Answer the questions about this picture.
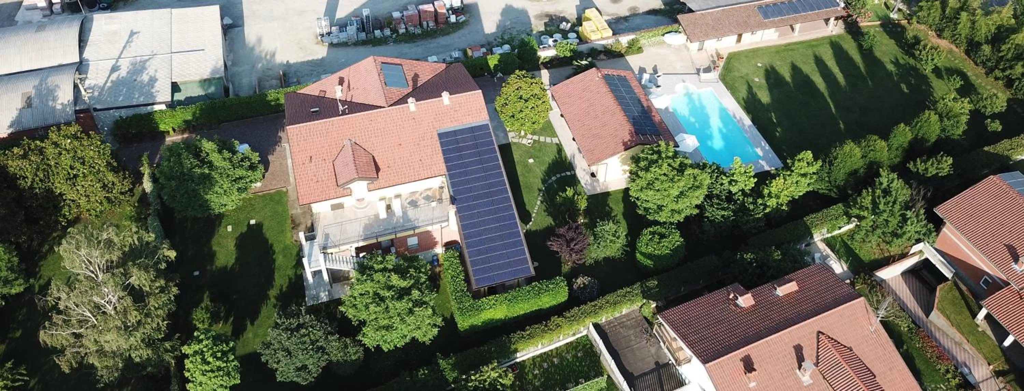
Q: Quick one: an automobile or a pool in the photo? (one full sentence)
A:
Visible in the photo is a pool.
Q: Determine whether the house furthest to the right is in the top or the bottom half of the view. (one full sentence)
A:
The bottom half of the photo is where the house furthest to the right is.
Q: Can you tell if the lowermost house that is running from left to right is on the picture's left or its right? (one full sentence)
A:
The lowermost house that is running from left to right appears in the right half of the scene.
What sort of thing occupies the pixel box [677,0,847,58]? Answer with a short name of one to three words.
building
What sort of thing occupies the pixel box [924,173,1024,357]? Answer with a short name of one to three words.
house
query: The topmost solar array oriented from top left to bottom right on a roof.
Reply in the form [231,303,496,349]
[605,71,660,136]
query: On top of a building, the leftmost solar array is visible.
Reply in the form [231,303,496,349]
[435,120,540,290]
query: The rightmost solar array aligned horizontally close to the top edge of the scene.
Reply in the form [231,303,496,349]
[757,0,841,21]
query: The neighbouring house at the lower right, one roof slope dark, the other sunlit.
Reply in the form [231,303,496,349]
[651,256,928,391]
